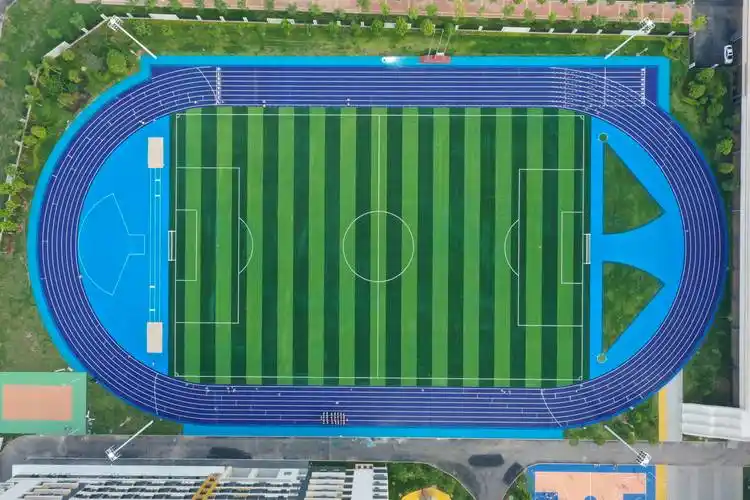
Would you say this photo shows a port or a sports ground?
sports ground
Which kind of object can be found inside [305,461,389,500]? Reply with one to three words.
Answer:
building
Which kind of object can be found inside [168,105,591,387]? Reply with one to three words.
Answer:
soccer field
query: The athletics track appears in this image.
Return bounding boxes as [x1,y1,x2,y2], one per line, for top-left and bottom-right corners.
[27,56,729,436]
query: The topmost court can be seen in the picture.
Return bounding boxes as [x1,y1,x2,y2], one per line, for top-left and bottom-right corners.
[0,372,89,435]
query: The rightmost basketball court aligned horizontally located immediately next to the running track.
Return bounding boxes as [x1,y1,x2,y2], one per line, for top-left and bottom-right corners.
[529,465,656,500]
